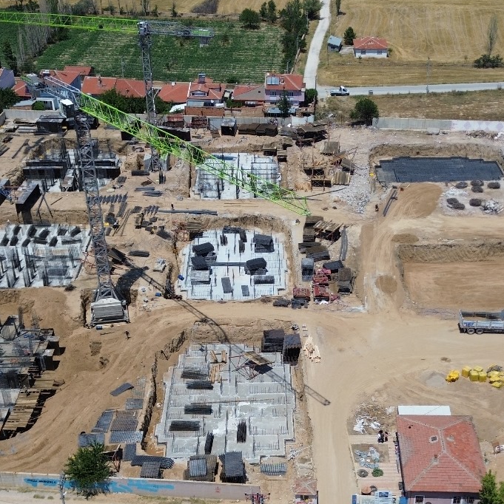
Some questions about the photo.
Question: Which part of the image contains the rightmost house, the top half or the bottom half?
bottom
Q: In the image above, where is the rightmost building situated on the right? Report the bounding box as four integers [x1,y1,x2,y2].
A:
[385,414,488,504]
